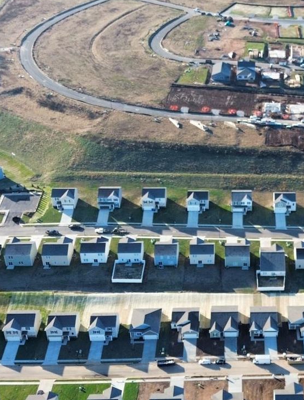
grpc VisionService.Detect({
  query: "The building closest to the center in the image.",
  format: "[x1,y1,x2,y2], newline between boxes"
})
[140,186,170,209]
